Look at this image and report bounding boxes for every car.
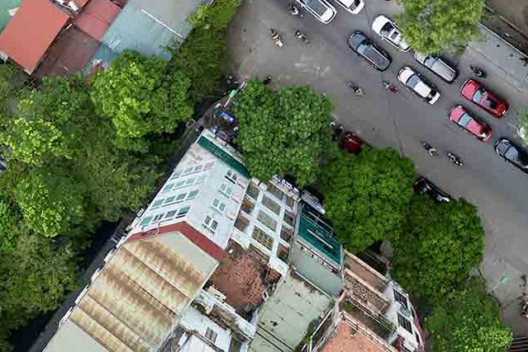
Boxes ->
[394,62,444,110]
[458,74,512,123]
[334,118,377,159]
[411,172,458,210]
[491,134,528,177]
[334,0,368,18]
[293,0,339,27]
[411,45,461,87]
[346,27,396,75]
[446,101,496,146]
[370,13,415,56]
